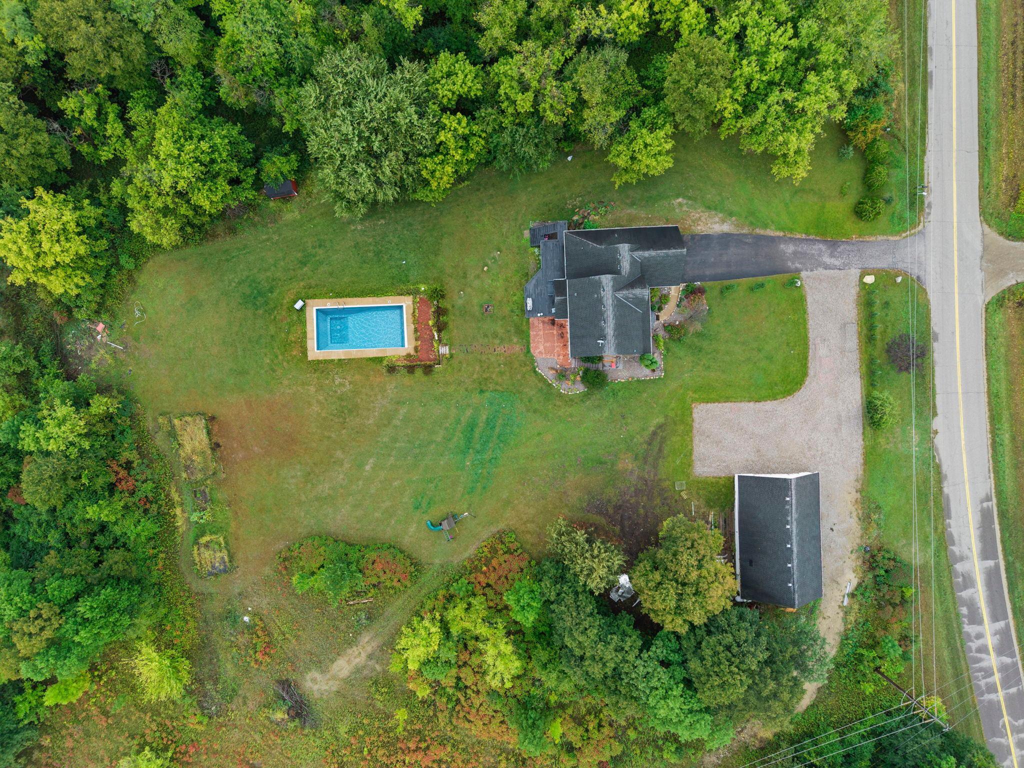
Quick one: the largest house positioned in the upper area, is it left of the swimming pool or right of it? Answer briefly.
to the right of it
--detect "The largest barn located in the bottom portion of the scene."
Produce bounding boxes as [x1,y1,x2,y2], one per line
[734,472,824,608]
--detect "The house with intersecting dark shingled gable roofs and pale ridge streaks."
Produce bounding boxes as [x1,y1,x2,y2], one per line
[554,225,686,358]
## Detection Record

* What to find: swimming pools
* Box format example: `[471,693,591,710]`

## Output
[305,296,415,360]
